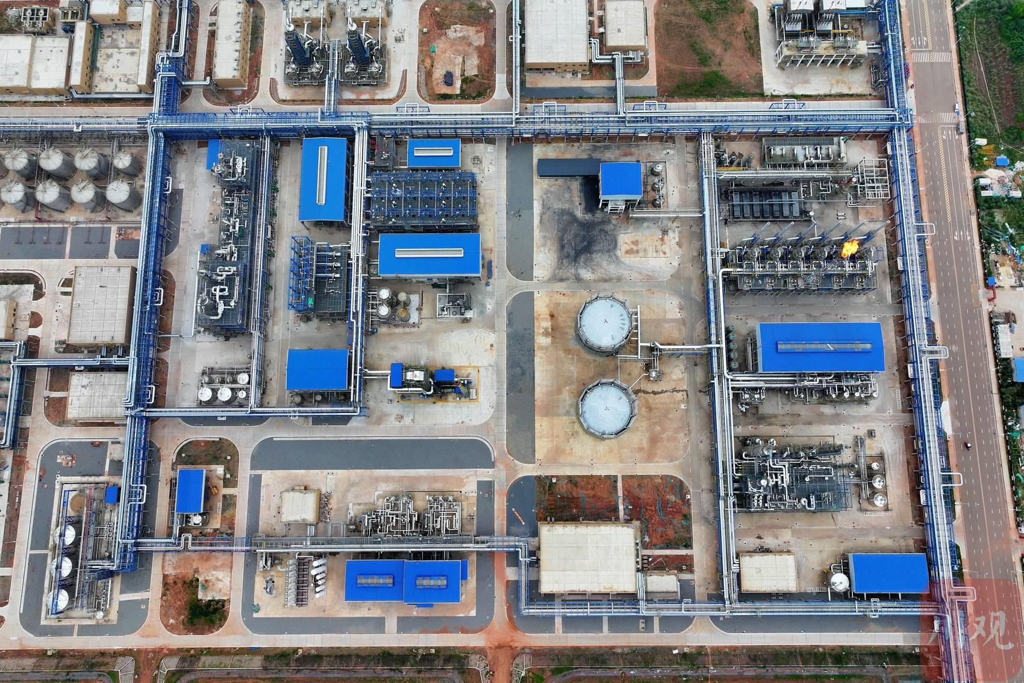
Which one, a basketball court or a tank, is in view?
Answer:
tank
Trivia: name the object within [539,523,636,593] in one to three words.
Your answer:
building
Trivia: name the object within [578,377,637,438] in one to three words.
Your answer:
storage tank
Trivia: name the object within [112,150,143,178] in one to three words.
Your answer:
silo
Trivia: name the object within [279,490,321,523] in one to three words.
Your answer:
shed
